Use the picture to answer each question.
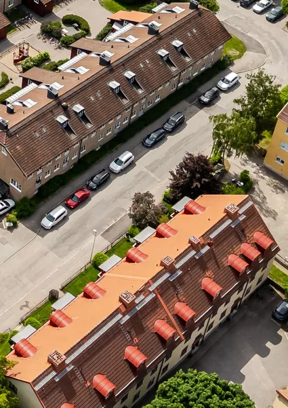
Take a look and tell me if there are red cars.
Yes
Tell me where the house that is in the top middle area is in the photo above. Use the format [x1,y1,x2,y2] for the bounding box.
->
[0,2,235,197]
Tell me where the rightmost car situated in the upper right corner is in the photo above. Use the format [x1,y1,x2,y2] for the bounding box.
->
[265,7,284,22]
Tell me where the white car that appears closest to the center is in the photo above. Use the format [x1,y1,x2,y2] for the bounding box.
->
[109,151,135,173]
